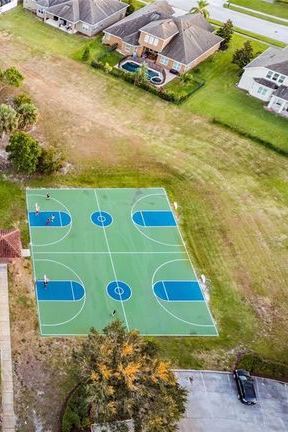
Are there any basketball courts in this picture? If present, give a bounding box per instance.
[26,188,187,253]
[32,252,219,336]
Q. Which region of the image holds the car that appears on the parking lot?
bottom right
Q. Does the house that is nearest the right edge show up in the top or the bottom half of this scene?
top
